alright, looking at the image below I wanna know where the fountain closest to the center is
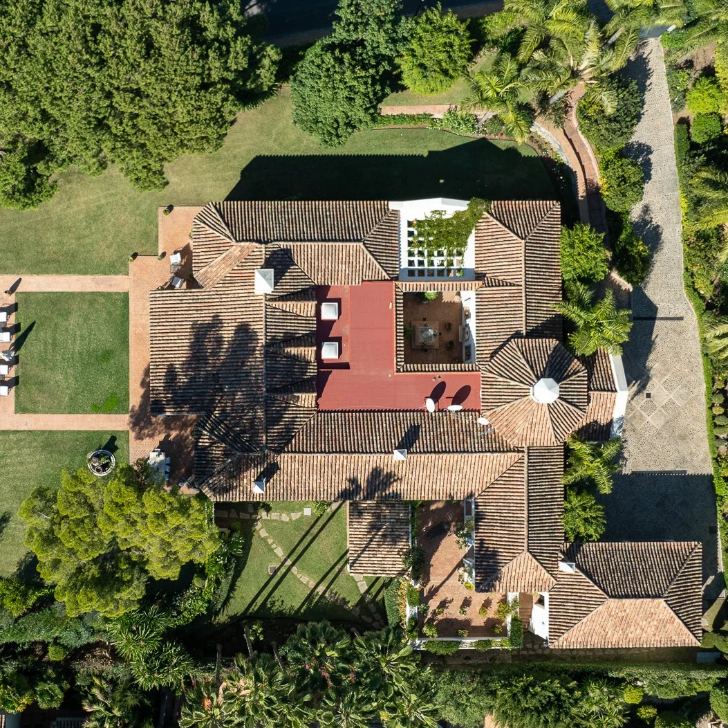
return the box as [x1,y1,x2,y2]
[412,321,439,348]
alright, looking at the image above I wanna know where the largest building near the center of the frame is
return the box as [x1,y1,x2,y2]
[149,198,706,650]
